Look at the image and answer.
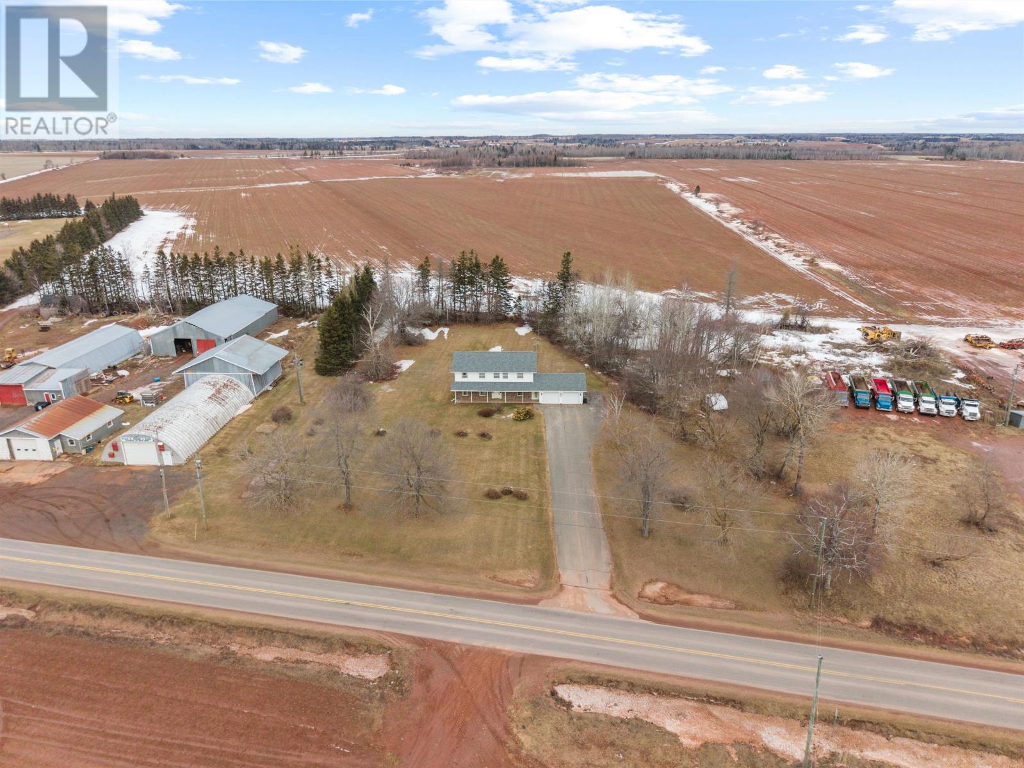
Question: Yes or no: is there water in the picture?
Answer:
No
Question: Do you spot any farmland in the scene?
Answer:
Yes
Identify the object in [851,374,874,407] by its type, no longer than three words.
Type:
truck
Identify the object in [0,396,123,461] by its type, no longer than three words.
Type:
building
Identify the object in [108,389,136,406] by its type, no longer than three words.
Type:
work vehicle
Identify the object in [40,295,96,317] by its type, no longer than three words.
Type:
shed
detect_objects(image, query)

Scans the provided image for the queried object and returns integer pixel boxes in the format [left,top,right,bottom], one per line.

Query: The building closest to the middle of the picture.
[450,347,586,406]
